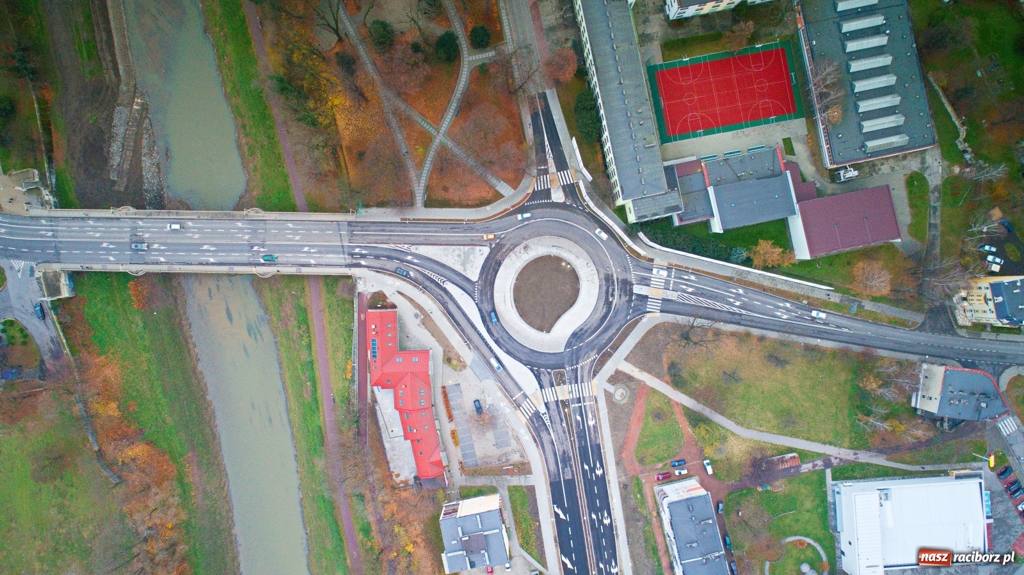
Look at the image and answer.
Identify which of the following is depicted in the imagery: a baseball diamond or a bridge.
bridge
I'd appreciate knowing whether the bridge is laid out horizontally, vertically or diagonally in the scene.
horizontally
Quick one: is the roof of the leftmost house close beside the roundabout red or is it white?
red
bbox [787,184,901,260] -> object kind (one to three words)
building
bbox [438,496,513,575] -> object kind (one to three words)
building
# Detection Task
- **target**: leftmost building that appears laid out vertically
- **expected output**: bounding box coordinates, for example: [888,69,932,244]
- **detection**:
[366,311,449,486]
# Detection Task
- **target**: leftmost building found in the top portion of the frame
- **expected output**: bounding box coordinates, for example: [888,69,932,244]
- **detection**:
[8,167,44,185]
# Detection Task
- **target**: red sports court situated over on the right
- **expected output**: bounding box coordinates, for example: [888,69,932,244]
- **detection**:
[646,36,809,144]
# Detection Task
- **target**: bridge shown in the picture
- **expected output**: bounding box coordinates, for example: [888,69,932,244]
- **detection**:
[38,205,358,277]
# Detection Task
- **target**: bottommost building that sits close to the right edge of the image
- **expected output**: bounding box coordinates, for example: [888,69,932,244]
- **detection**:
[836,464,993,575]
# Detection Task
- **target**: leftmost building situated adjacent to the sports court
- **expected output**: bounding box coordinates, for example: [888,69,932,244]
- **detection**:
[572,0,668,206]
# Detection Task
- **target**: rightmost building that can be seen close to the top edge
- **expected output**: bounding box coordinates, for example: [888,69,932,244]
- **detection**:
[793,0,939,169]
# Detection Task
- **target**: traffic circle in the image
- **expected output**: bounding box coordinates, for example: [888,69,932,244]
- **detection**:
[410,157,678,575]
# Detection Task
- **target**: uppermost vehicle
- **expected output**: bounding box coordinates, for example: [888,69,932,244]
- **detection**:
[838,165,862,181]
